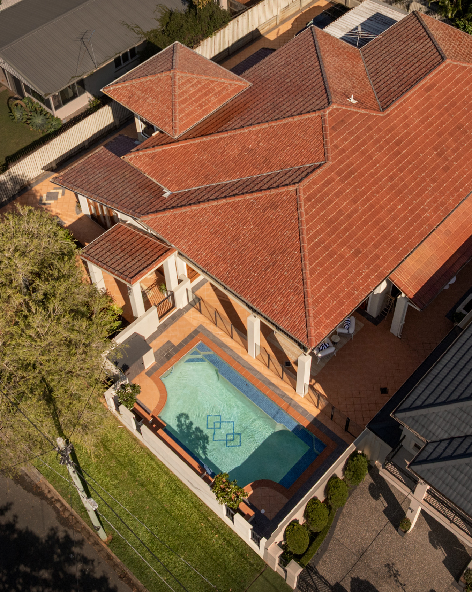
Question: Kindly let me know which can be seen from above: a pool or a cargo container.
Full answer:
Visible in the photo is a pool.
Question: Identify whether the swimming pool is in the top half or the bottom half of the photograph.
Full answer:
The swimming pool is in the bottom half of the image.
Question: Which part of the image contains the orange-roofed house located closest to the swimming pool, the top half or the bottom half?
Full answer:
It is in the top half that the orange-roofed house located closest to the swimming pool appears.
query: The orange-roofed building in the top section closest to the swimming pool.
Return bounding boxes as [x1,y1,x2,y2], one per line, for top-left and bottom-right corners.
[48,9,472,398]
